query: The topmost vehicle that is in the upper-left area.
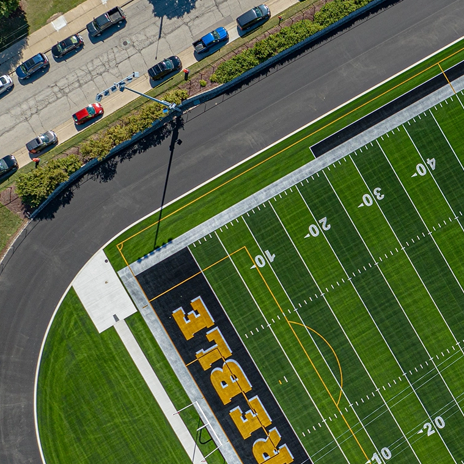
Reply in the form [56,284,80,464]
[87,5,129,37]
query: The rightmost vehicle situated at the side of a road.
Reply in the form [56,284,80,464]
[235,3,272,31]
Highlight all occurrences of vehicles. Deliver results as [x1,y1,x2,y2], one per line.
[0,74,17,95]
[87,5,129,37]
[16,53,50,79]
[191,25,229,55]
[235,3,272,31]
[71,101,105,126]
[0,156,18,178]
[52,32,86,58]
[24,129,61,156]
[148,55,182,80]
